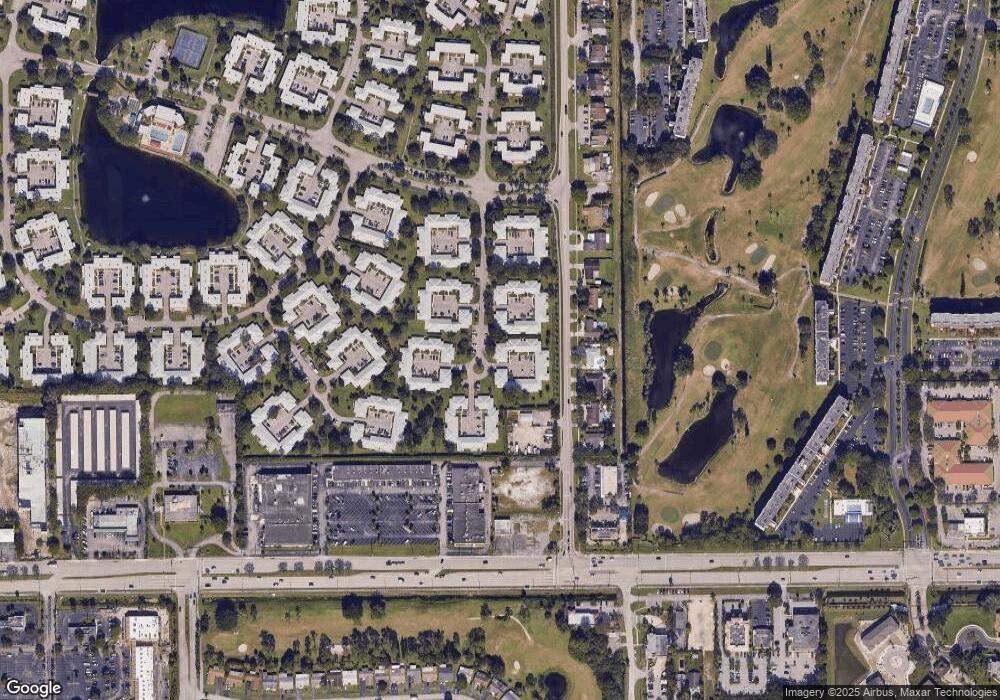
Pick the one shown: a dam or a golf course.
golf course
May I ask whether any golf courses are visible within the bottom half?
Yes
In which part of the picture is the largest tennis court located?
top left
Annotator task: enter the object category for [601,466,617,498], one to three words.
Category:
building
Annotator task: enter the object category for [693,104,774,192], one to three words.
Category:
pond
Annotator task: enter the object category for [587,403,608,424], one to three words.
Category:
house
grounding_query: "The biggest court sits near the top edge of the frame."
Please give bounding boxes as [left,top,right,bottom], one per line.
[170,26,207,69]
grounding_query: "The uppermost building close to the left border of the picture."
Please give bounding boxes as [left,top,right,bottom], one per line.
[27,0,87,36]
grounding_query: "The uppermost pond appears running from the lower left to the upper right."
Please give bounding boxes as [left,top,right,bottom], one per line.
[716,0,782,79]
